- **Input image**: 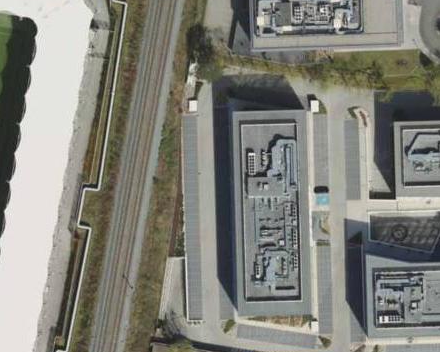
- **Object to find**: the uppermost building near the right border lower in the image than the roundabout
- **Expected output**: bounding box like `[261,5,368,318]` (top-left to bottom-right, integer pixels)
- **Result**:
[392,118,440,199]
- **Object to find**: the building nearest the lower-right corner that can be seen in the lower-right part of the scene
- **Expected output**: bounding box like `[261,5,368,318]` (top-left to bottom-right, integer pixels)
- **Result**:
[365,247,440,338]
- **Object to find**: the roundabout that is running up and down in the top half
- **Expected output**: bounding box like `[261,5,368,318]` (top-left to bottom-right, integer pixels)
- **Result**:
[416,0,440,52]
